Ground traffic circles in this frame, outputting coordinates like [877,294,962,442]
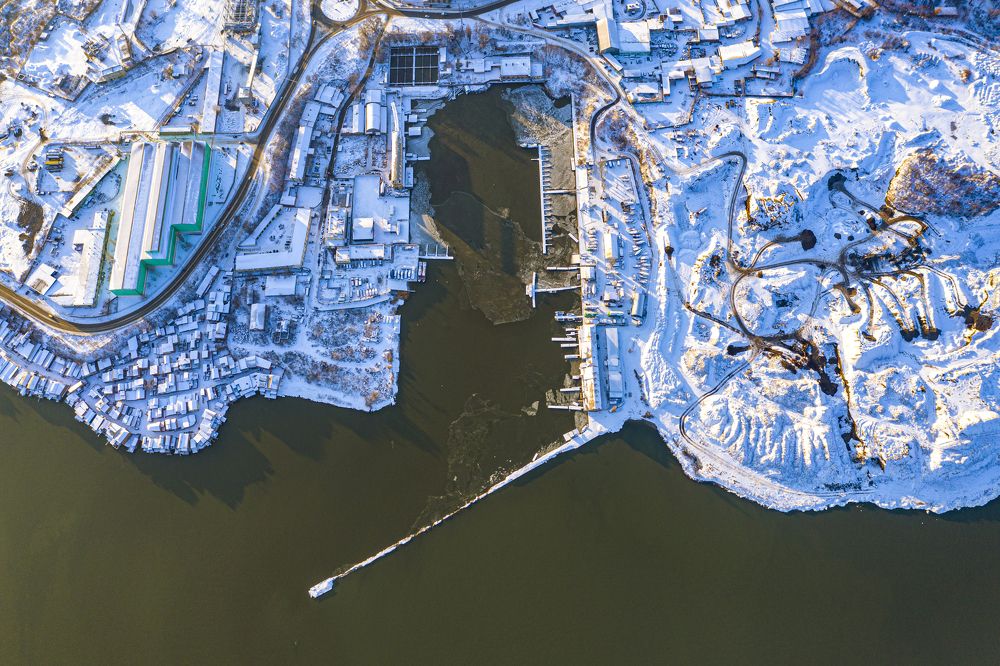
[311,0,368,27]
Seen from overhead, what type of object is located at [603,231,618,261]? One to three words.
shed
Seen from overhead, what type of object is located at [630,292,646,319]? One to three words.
house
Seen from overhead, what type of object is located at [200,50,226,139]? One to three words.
building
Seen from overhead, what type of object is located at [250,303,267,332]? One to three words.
barn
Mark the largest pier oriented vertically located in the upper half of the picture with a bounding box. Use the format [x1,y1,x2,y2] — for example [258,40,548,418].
[540,146,556,254]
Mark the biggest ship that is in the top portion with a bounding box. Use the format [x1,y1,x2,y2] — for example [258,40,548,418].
[390,102,402,190]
